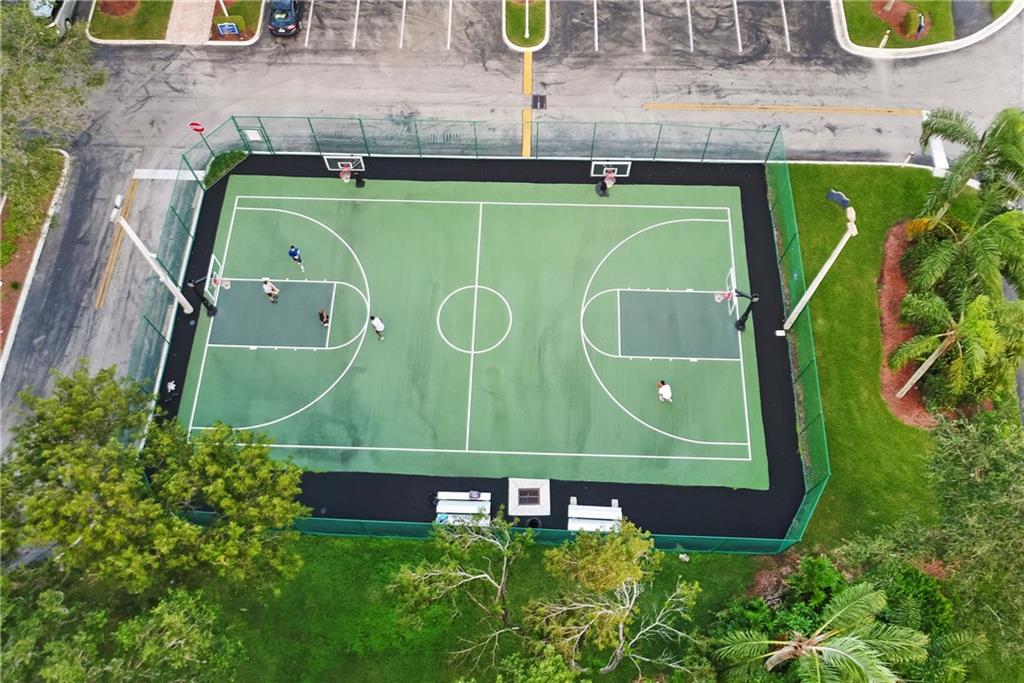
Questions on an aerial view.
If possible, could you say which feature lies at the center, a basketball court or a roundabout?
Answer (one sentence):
It is a basketball court that can be seen at the center.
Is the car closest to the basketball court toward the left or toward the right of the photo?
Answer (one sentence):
It is on the left.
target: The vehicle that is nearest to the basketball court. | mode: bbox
[268,0,306,34]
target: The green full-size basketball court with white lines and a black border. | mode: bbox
[135,156,803,551]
